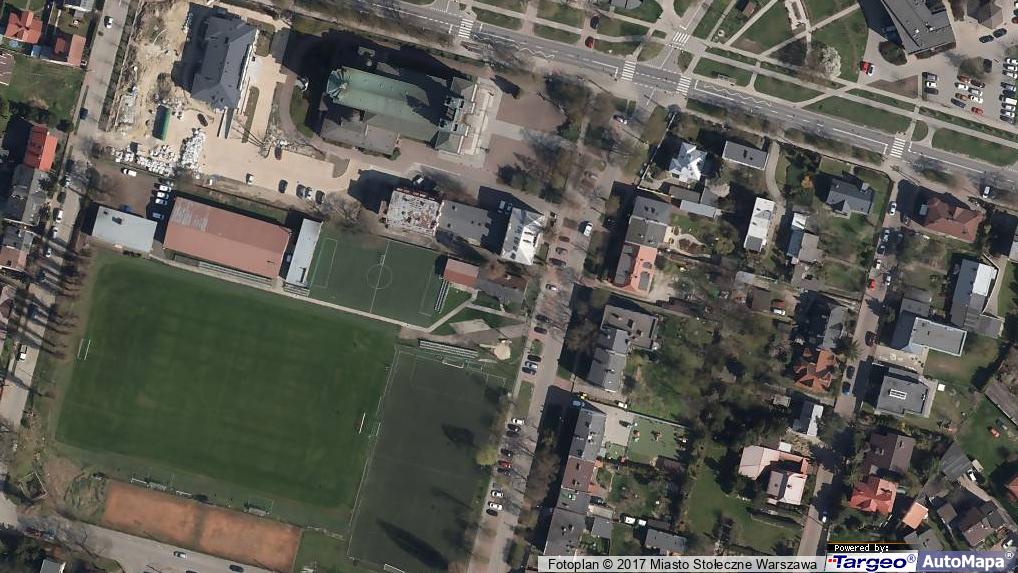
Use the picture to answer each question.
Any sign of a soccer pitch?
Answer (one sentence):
Yes, the photo shows a soccer pitch.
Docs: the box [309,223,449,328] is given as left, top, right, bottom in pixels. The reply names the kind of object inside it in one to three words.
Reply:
soccer field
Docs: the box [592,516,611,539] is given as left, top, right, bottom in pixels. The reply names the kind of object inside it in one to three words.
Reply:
shed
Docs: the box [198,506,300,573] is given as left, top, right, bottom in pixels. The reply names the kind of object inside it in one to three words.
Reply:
sports court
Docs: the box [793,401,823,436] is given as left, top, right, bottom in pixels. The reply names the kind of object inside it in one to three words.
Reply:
house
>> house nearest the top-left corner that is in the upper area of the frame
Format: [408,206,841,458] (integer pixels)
[5,10,42,44]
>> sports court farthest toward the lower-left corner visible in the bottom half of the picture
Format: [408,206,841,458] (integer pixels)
[103,482,199,543]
